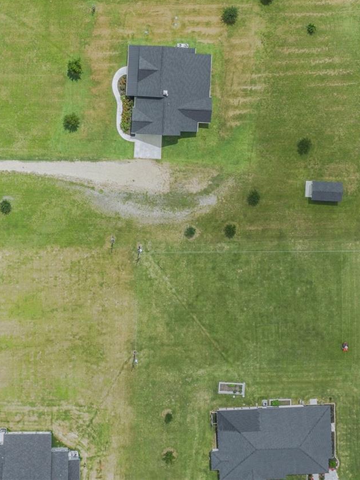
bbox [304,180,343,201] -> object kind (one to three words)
shed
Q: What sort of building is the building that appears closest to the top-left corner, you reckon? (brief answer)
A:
home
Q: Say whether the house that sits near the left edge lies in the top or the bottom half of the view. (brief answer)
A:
bottom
